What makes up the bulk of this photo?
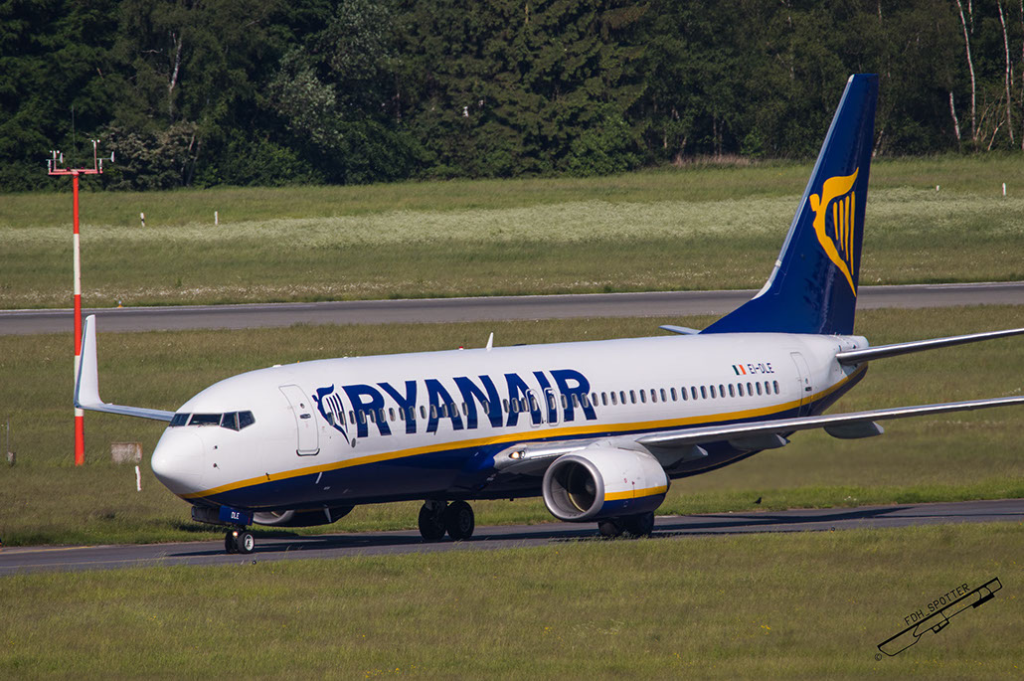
grass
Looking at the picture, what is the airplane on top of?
grass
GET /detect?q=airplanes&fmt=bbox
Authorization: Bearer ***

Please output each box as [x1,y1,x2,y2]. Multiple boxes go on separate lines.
[69,72,1024,554]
